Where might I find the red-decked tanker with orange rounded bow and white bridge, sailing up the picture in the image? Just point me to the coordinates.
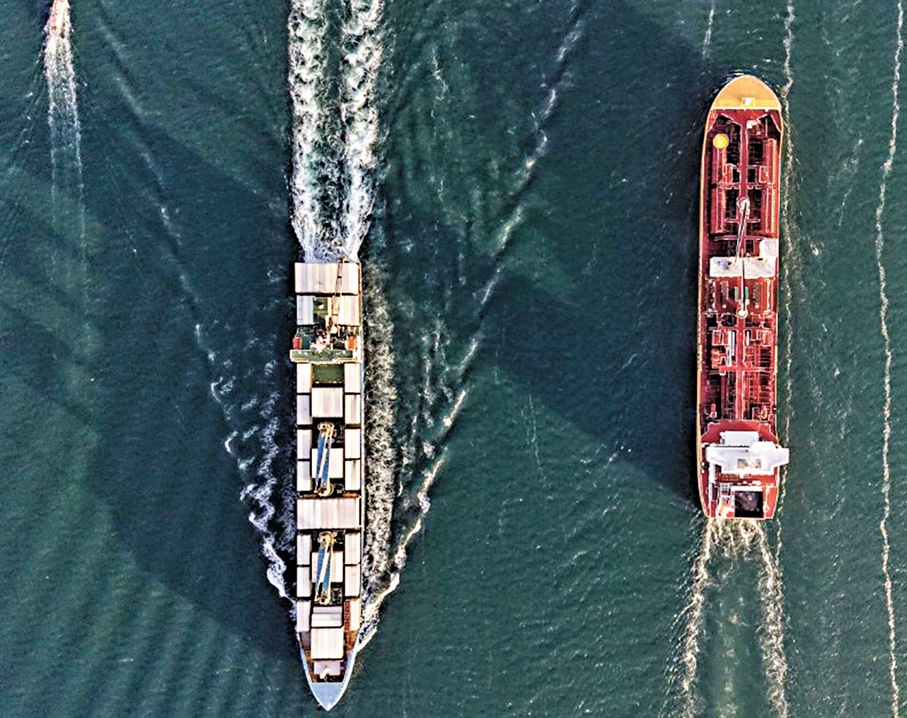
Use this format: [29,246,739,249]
[697,74,789,518]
